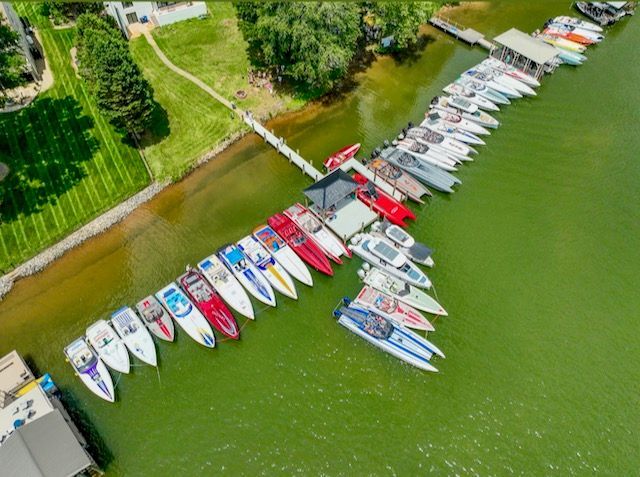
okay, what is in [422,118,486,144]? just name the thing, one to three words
boat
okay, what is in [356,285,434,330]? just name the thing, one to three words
boat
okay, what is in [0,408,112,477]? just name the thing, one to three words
building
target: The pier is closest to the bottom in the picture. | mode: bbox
[288,158,405,243]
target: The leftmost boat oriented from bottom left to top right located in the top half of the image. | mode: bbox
[322,143,360,173]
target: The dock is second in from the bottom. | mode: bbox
[244,109,329,183]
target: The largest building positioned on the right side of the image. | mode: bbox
[488,29,560,81]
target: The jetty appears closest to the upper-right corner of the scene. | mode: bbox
[429,15,494,49]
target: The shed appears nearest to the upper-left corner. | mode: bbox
[4,0,44,89]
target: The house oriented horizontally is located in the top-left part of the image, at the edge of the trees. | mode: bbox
[102,0,188,36]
